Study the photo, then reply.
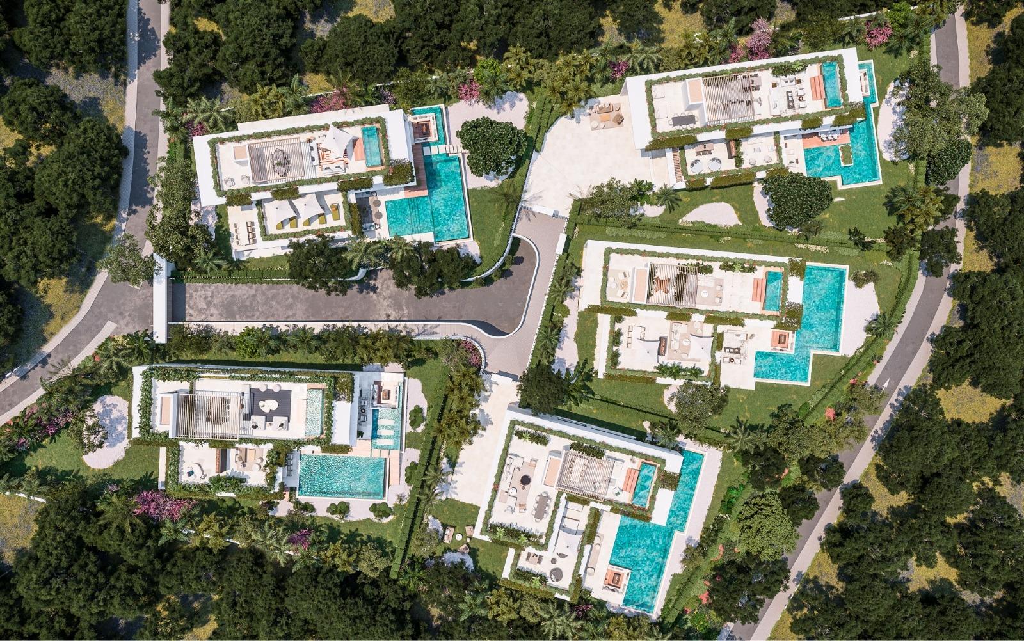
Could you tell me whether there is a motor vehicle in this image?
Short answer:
No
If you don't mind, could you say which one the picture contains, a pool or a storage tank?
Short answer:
pool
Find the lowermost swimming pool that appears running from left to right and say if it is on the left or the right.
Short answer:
left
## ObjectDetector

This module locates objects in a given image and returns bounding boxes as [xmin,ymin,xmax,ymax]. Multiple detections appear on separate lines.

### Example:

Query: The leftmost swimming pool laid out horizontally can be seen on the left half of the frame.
[296,454,390,503]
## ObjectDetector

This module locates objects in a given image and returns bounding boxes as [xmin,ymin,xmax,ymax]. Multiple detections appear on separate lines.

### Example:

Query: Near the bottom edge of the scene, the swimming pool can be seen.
[610,446,708,617]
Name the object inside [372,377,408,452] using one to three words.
swimming pool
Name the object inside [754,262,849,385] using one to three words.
swimming pool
